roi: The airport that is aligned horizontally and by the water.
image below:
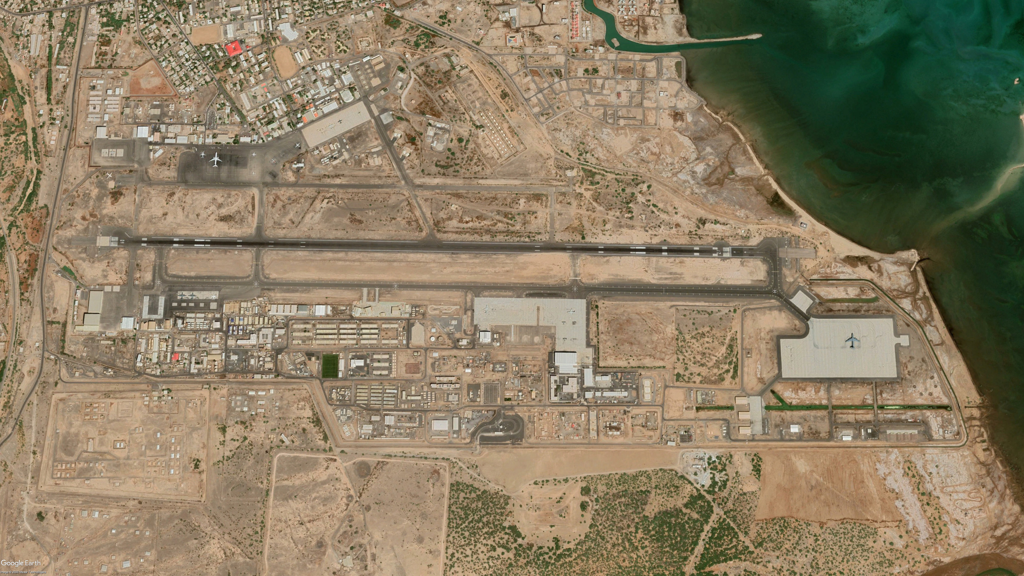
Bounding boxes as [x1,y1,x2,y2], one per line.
[71,65,910,381]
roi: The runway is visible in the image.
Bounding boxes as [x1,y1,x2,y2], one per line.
[110,236,816,258]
